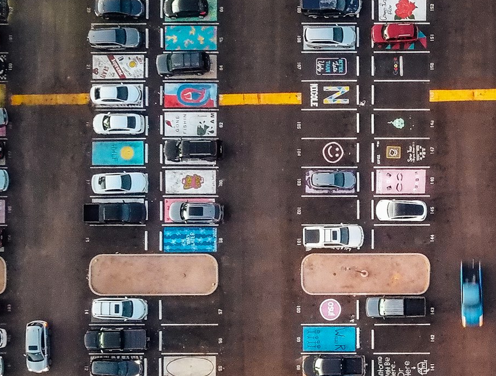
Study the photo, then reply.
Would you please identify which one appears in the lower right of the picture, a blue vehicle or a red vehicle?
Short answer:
blue vehicle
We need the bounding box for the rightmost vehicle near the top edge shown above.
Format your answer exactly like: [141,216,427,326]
[371,18,418,44]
